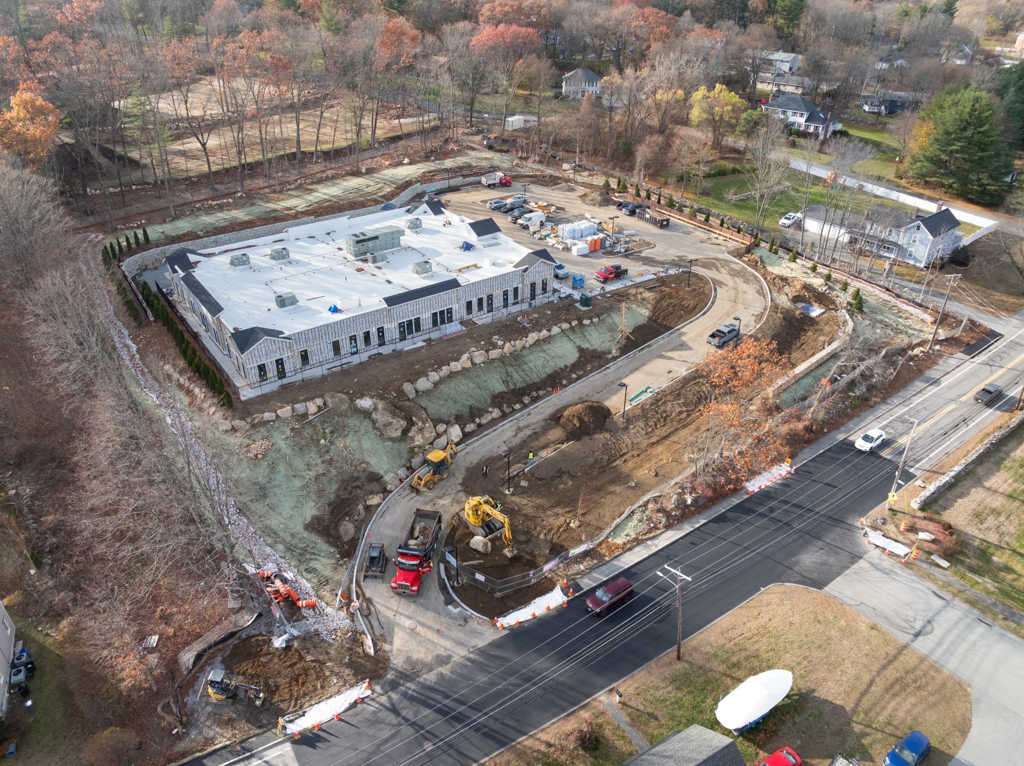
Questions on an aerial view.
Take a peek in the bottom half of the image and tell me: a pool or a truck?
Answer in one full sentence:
Visible in the bottom half of the image is a truck.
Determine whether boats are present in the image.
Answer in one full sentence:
Yes, a boat appears in the view.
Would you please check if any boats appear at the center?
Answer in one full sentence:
No, there is no boat at the center.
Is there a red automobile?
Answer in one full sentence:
Yes, a red automobile appears in the view.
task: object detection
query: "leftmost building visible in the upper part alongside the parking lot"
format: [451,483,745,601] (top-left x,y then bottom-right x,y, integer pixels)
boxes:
[175,194,559,388]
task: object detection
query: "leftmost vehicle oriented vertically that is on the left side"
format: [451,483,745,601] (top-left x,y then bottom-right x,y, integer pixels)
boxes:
[362,537,386,582]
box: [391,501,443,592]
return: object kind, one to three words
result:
truck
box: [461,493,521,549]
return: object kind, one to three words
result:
work vehicle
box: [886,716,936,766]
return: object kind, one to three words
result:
car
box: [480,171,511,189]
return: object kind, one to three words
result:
vehicle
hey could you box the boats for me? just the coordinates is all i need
[710,672,788,735]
